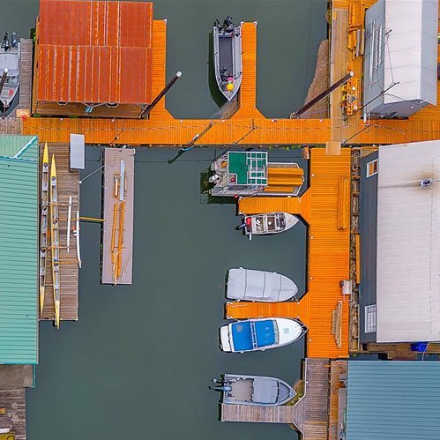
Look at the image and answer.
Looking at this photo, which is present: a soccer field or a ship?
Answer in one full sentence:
The image shows a ship.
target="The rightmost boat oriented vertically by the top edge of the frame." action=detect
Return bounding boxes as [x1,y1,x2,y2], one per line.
[212,8,244,118]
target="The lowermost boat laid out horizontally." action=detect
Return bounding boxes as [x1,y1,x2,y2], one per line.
[206,373,296,407]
